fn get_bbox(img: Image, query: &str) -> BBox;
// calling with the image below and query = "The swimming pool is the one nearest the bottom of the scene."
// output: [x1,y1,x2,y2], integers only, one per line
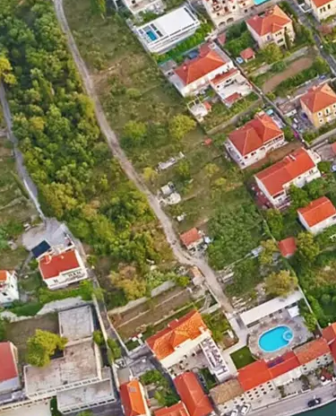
[256,325,294,352]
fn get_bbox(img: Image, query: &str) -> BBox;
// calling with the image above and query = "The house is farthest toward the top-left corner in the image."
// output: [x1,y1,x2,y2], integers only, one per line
[114,0,166,25]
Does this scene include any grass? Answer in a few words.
Yes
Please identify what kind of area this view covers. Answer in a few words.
residential area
